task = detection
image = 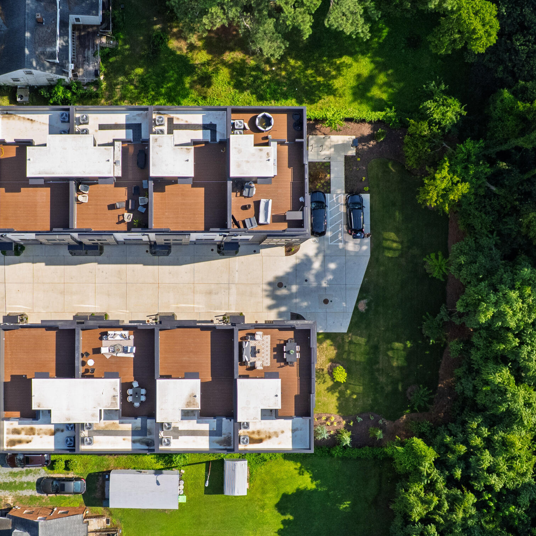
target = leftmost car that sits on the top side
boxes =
[309,191,330,236]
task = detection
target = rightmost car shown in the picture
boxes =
[344,191,366,238]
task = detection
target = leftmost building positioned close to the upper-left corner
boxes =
[0,0,113,84]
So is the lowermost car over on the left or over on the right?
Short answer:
left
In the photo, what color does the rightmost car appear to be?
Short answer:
black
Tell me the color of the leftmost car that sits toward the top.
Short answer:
black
